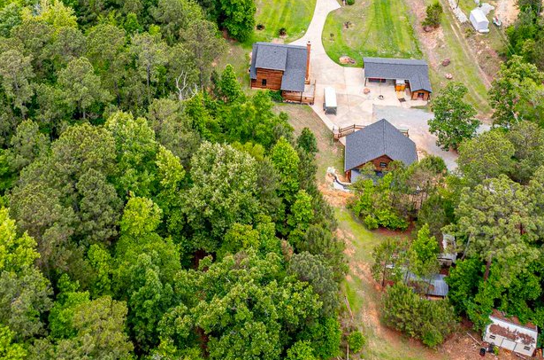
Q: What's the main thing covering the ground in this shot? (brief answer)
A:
trees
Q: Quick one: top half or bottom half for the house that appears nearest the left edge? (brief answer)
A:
top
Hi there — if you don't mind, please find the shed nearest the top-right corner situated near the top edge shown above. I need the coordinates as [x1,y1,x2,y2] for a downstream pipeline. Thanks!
[464,10,494,32]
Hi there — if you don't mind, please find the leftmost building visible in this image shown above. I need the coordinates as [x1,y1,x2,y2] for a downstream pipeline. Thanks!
[249,40,314,103]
